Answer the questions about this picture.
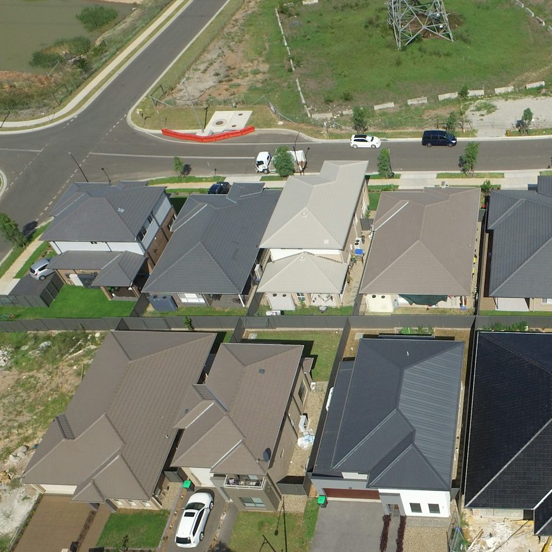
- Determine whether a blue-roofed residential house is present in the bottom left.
No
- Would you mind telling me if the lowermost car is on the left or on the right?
left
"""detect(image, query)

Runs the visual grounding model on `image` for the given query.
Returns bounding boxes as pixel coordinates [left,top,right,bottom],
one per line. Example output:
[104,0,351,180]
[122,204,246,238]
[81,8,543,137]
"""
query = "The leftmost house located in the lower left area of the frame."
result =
[19,330,217,509]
